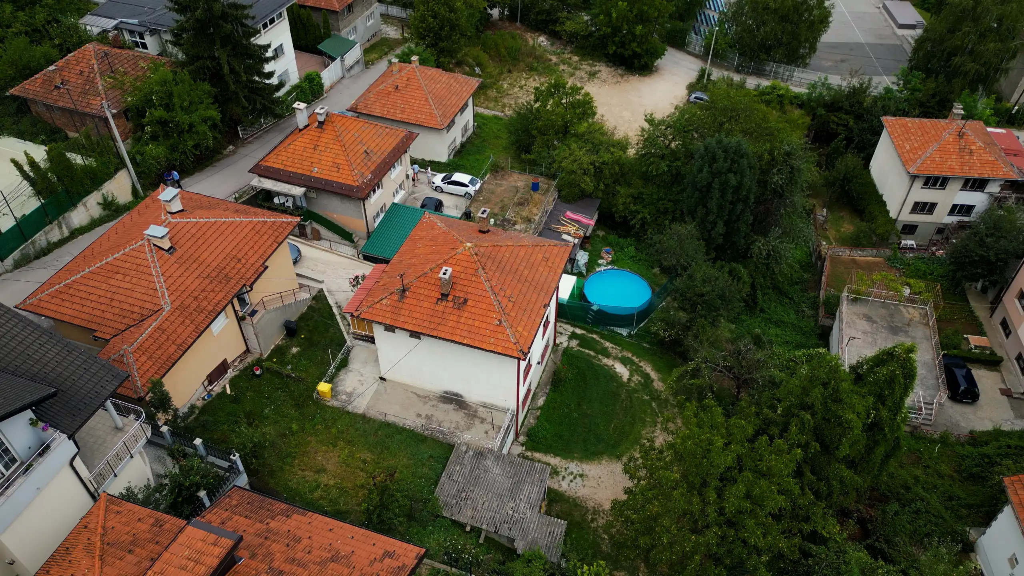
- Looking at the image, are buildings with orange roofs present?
Yes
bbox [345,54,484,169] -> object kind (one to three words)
house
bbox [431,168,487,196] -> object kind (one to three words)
car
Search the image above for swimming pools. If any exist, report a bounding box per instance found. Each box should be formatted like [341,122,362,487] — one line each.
[581,270,653,321]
